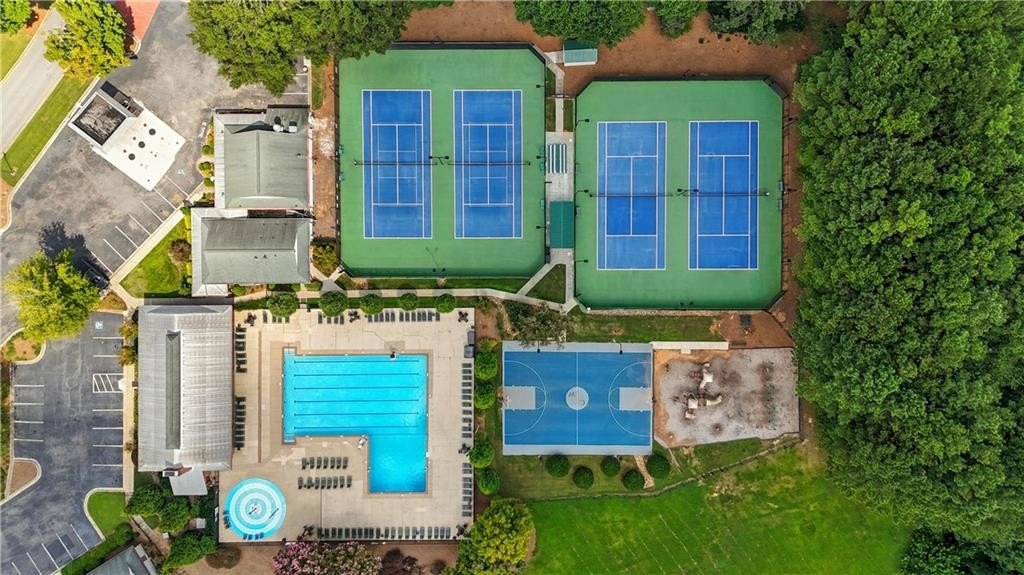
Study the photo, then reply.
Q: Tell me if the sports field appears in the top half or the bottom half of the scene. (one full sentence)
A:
It is in the bottom half that the sports field appears.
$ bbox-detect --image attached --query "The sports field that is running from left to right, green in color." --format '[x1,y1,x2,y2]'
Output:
[466,448,930,575]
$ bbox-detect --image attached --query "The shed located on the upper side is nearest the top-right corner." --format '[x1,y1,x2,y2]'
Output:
[563,40,598,67]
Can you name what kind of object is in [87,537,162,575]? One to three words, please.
house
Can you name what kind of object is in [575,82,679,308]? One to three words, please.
tennis court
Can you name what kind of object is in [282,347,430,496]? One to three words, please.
swimming pool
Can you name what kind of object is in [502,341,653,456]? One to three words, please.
basketball court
